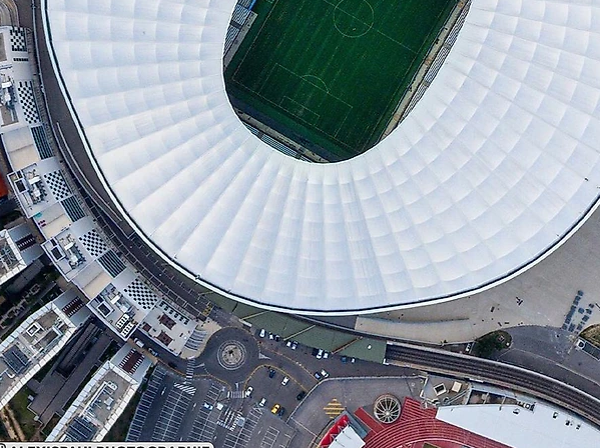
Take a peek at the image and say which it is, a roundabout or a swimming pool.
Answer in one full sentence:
This aerial view contains a roundabout.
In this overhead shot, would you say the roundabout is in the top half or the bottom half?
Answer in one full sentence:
The bottom half of the photo is where the roundabout is.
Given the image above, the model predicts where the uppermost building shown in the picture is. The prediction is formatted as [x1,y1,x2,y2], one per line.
[0,26,45,134]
